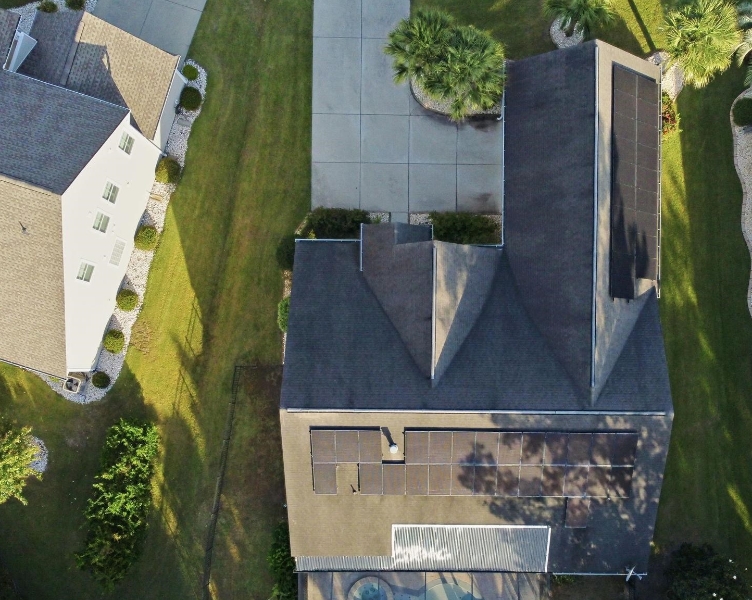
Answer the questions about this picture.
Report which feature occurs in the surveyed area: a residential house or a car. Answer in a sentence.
Of the two, only a residential house appears.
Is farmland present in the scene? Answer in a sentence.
No, the picture contains no farmland.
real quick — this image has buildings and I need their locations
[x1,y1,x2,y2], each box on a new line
[280,40,672,575]
[0,4,199,384]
